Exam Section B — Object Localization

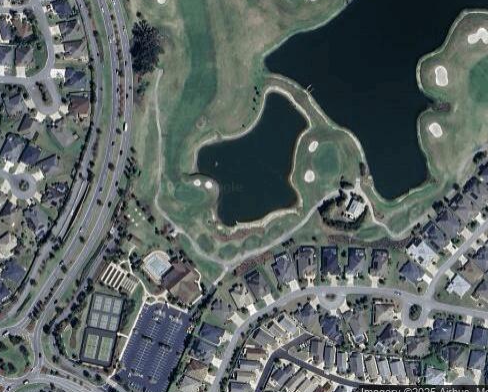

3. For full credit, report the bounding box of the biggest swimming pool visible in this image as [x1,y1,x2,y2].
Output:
[142,249,176,283]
